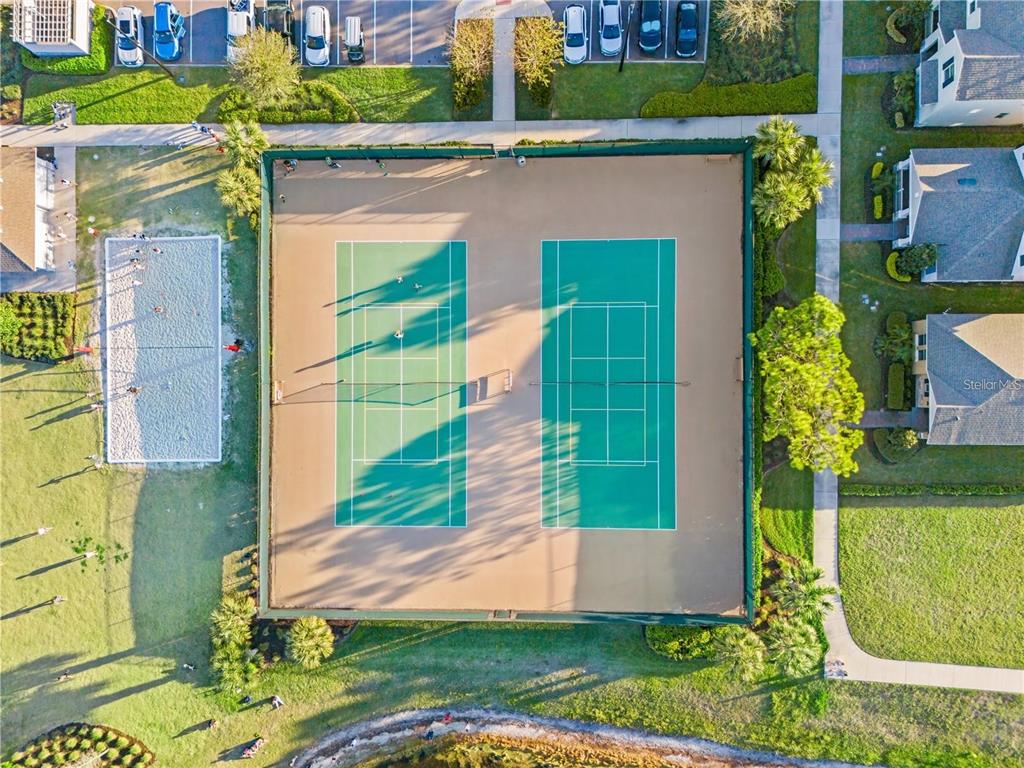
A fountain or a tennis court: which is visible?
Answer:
tennis court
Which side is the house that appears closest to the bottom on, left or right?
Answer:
right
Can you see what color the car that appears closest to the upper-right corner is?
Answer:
blue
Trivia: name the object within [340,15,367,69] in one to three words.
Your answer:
vehicle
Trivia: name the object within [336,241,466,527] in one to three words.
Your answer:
tennis court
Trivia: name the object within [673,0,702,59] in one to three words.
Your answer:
car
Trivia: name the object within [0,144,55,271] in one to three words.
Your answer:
building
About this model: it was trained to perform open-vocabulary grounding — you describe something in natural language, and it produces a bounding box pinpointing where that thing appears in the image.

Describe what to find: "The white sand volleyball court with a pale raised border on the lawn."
[104,236,222,463]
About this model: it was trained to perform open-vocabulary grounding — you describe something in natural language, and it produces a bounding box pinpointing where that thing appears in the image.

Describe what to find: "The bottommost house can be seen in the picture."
[912,310,1024,445]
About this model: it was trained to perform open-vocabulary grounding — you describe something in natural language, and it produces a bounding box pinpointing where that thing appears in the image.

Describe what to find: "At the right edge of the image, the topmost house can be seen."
[915,0,1024,125]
